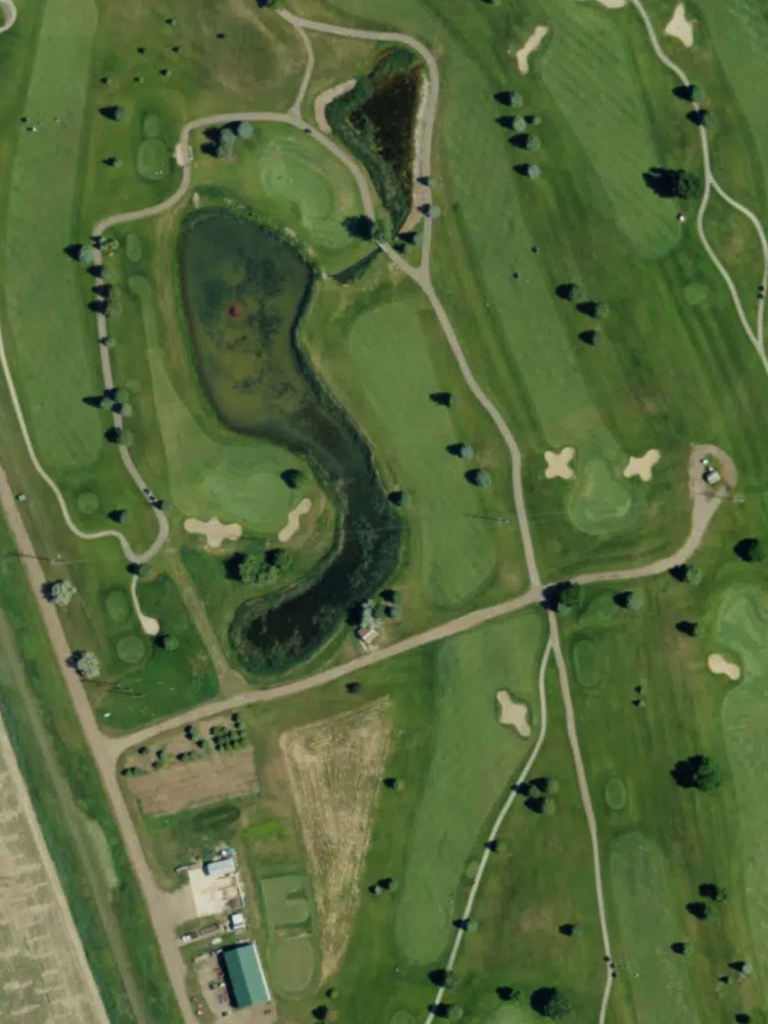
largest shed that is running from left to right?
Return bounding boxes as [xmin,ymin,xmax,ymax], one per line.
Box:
[208,859,236,875]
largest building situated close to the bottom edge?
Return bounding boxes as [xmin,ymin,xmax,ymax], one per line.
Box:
[223,944,268,1008]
